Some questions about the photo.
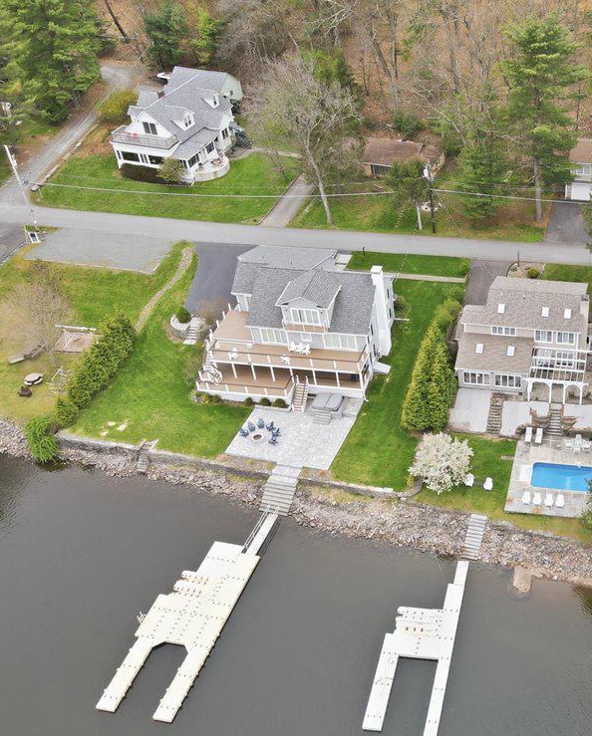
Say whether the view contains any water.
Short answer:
Yes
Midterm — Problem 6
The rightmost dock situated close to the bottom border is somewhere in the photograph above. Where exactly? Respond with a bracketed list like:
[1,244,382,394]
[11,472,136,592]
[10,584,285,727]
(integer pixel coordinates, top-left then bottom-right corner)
[363,584,464,736]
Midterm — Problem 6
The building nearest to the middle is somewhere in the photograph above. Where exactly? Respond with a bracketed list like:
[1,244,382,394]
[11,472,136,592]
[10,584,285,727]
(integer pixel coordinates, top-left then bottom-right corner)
[191,247,398,409]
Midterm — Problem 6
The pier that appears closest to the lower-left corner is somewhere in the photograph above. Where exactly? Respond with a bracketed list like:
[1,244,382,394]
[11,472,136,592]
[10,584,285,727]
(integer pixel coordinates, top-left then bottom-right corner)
[97,542,262,725]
